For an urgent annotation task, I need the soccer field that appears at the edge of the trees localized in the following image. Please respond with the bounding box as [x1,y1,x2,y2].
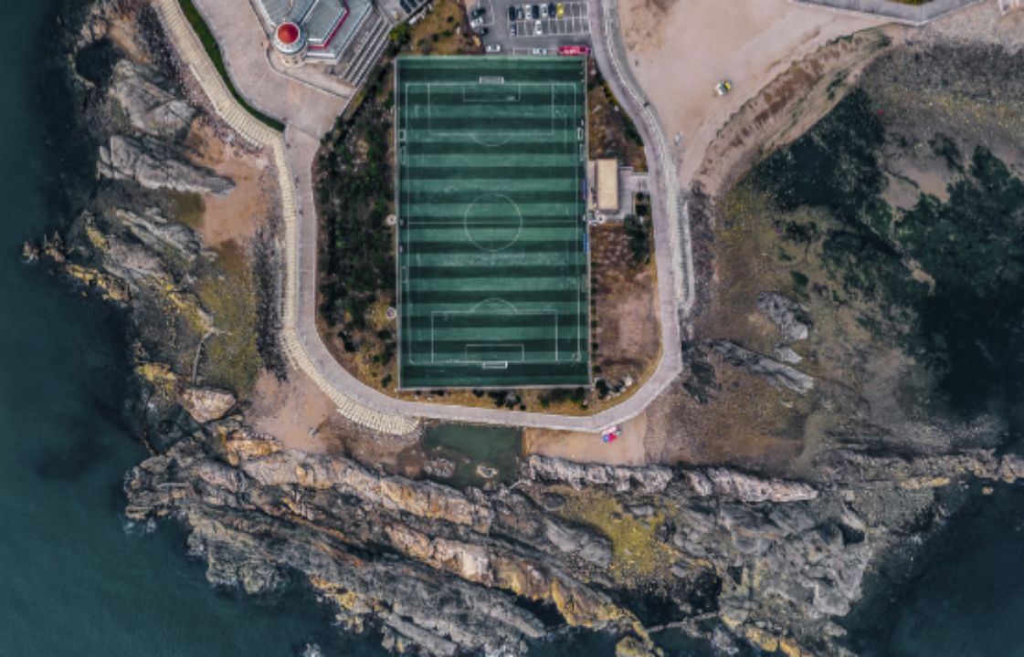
[398,55,589,388]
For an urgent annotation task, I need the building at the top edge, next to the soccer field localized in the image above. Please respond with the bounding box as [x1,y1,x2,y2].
[249,0,378,67]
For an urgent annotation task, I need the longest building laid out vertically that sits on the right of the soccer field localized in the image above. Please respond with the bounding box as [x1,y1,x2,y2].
[597,158,619,211]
